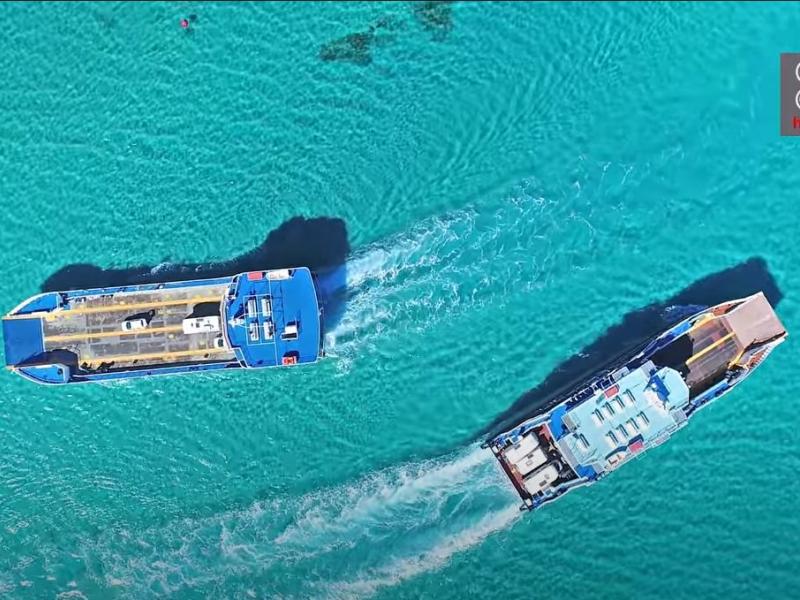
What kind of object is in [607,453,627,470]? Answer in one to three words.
boat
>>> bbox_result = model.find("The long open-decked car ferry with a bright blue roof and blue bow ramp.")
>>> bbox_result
[2,267,327,384]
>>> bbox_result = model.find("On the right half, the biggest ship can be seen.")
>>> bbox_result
[479,292,789,513]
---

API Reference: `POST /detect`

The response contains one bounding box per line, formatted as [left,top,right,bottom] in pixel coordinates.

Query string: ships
[2,267,327,384]
[479,292,789,513]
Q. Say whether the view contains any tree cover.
No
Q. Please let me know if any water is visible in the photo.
Yes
